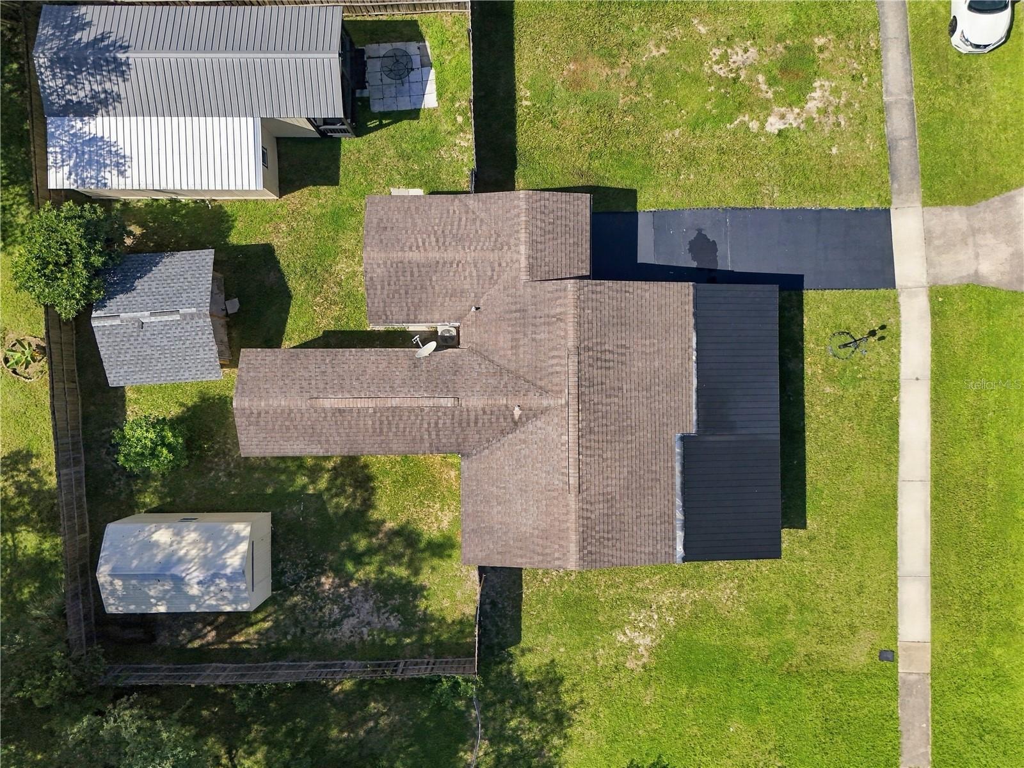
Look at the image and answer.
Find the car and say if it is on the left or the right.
right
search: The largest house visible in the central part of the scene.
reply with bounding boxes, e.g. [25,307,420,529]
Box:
[233,191,781,573]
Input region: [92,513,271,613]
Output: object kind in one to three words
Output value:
shed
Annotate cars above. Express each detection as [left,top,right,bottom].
[942,0,1011,55]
